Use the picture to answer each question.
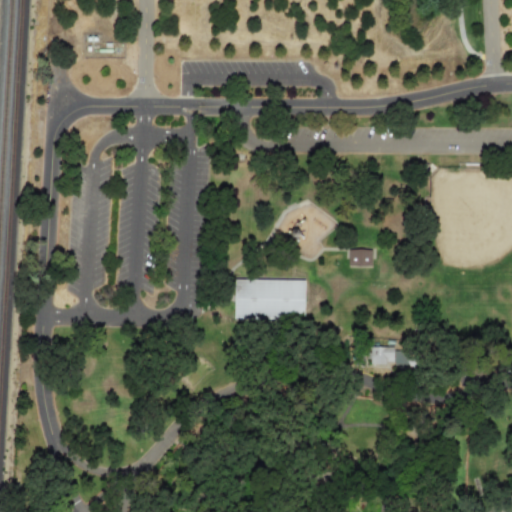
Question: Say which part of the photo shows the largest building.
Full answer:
Look in the center portion of the view to spot the largest building.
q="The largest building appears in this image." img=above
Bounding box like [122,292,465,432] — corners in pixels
[232,280,306,321]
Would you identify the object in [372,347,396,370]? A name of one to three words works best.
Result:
house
